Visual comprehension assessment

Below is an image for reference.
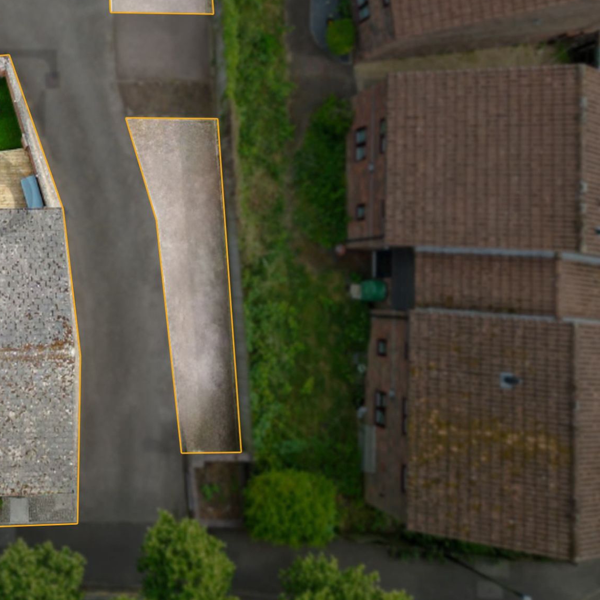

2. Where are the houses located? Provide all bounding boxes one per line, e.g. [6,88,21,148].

[369,306,600,563]
[0,207,80,498]
[350,0,600,69]
[346,63,600,257]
